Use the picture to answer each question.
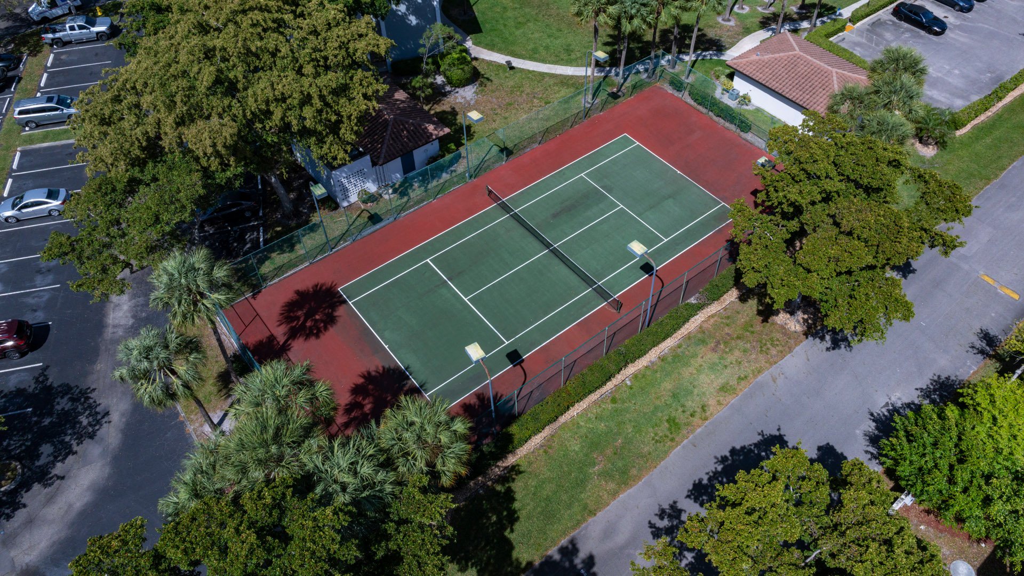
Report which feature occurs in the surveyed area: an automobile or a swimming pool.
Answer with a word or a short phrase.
automobile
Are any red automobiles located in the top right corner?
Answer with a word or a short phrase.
No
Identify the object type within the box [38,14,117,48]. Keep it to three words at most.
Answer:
truck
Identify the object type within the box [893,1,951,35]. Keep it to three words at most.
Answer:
car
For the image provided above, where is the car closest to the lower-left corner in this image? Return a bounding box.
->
[0,319,32,362]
